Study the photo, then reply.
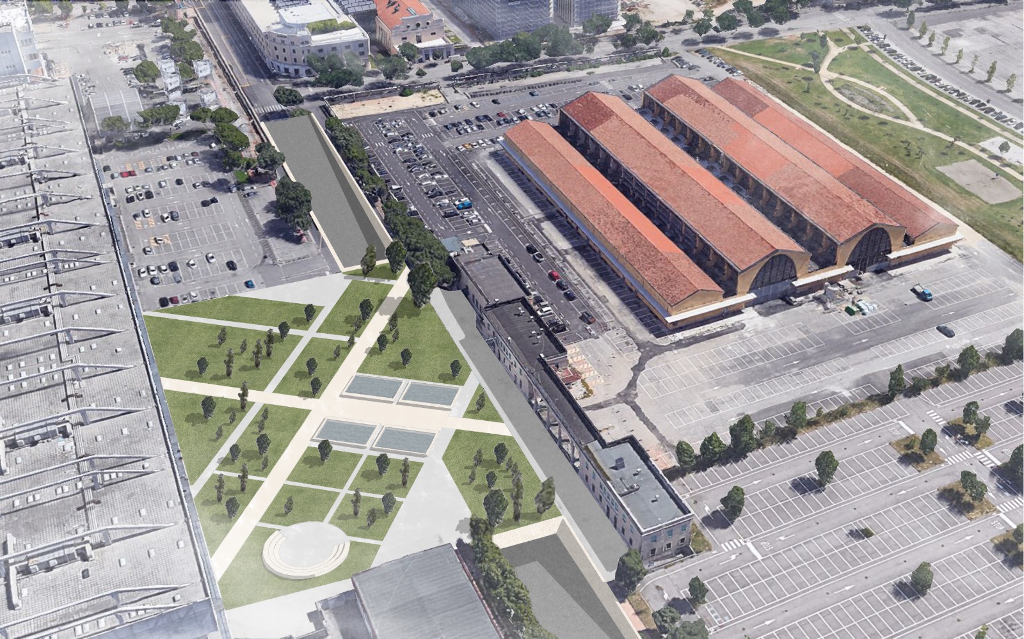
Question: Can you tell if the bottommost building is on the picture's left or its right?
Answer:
left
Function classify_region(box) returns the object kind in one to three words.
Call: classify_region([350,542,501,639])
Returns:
shed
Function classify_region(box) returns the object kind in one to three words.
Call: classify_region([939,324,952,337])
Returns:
vehicle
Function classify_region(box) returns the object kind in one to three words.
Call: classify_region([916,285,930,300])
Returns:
vehicle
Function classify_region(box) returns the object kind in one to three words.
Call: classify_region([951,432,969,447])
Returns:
car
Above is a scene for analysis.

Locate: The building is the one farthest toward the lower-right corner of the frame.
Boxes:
[579,430,695,565]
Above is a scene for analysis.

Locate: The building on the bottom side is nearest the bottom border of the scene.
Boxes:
[289,596,363,639]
